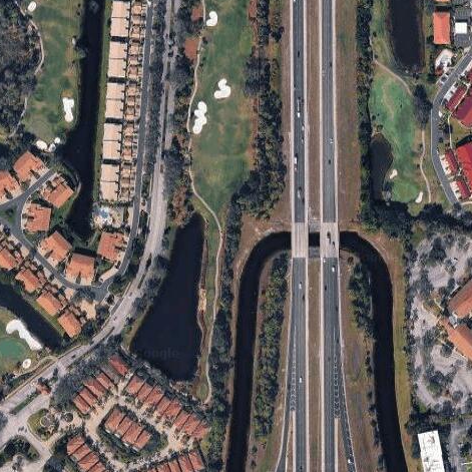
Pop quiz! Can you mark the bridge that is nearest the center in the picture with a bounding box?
[291,222,308,257]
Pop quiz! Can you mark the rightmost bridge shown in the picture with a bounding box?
[320,222,338,257]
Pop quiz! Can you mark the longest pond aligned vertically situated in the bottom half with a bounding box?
[133,213,202,380]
